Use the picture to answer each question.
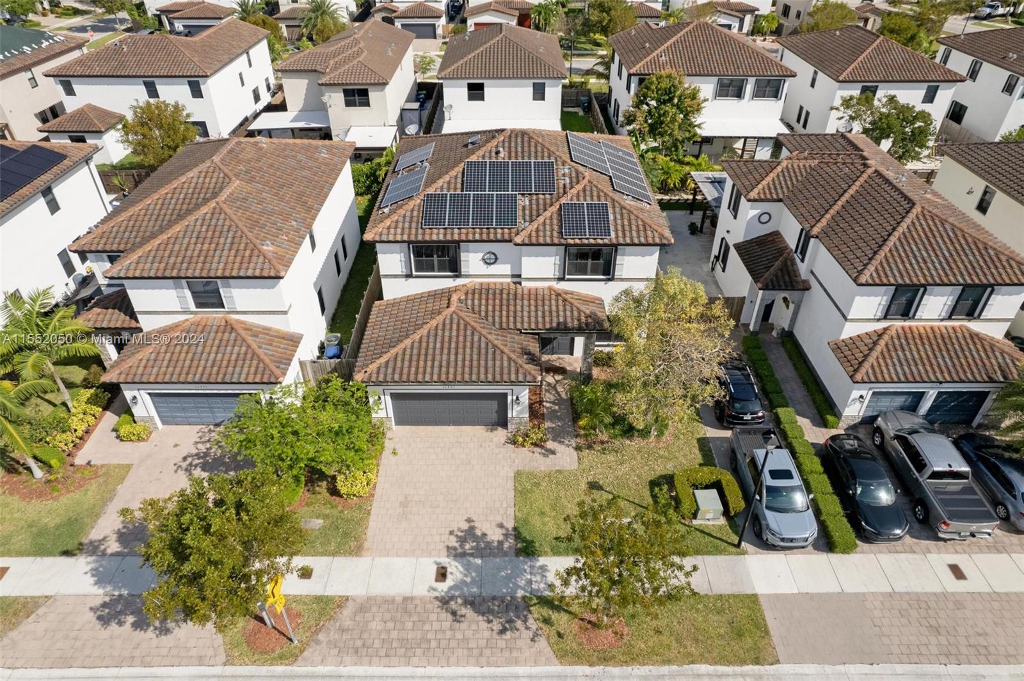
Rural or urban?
urban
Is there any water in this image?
No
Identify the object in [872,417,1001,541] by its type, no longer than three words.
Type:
truck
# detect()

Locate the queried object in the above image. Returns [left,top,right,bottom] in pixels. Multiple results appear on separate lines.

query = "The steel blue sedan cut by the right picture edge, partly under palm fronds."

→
[958,436,1024,532]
